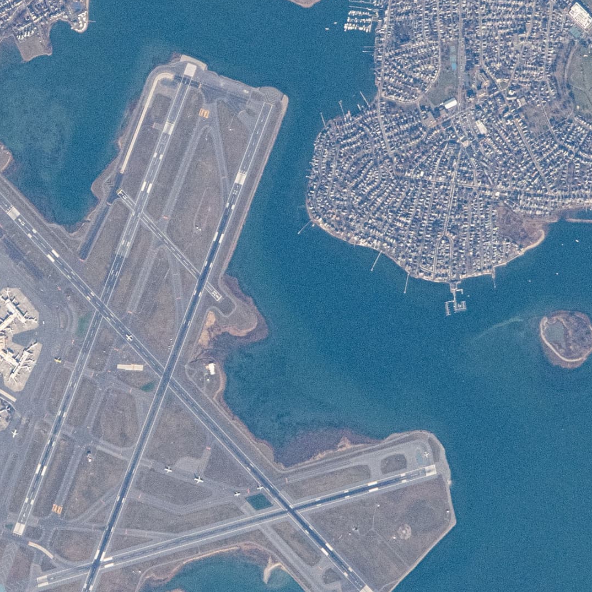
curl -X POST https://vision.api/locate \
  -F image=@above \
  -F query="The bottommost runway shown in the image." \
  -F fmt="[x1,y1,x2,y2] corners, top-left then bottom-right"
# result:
[35,460,438,592]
